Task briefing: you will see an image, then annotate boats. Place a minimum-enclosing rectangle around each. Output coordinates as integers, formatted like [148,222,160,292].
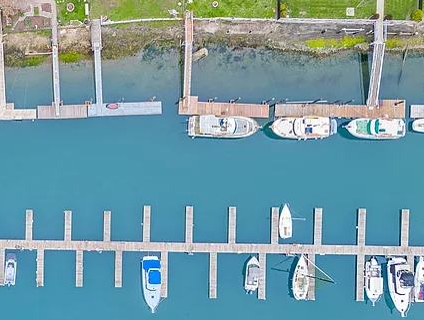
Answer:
[410,118,424,133]
[142,251,162,315]
[268,116,334,140]
[343,113,408,137]
[414,258,424,301]
[384,254,416,318]
[243,258,259,292]
[4,253,16,286]
[362,258,385,304]
[184,113,262,138]
[292,254,332,300]
[279,205,298,237]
